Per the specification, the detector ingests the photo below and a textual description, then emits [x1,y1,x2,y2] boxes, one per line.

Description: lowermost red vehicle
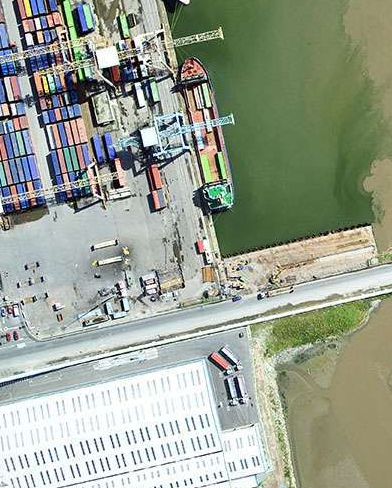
[208,353,231,375]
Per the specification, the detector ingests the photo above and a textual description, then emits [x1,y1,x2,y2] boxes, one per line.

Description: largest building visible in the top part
[93,91,117,125]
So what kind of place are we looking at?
port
